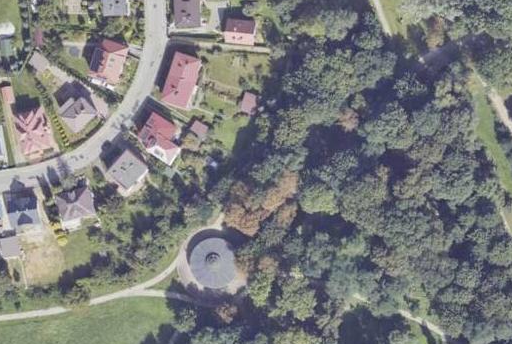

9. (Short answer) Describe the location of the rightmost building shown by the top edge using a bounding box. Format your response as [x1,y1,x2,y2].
[222,17,257,48]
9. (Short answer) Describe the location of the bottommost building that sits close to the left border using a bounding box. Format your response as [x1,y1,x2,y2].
[0,235,22,258]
